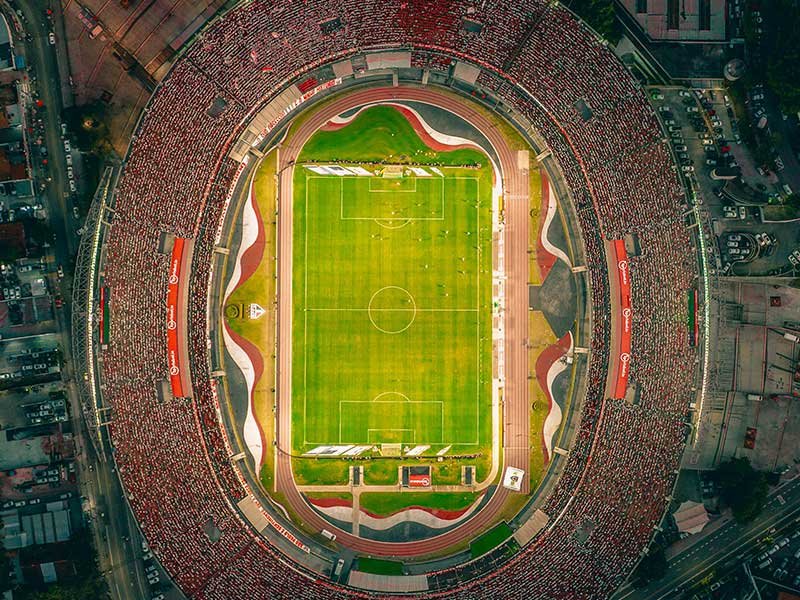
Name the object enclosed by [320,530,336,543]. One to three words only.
vehicle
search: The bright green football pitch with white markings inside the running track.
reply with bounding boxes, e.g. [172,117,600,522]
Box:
[292,166,492,462]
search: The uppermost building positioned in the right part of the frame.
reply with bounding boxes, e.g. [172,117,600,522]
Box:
[627,0,727,41]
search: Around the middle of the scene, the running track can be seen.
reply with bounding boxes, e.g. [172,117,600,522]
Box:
[277,88,529,556]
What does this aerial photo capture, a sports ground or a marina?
sports ground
